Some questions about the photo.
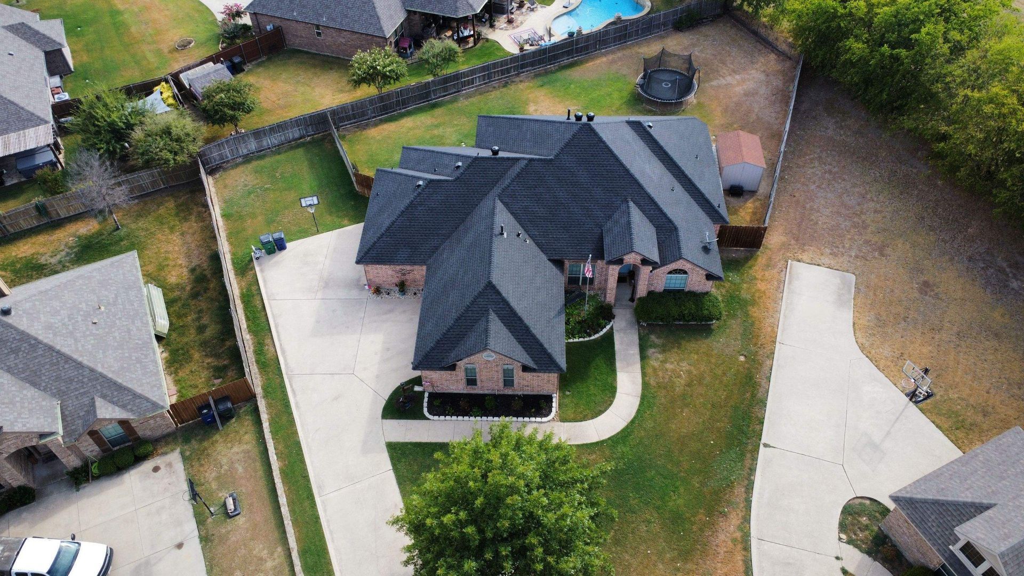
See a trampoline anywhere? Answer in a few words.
Yes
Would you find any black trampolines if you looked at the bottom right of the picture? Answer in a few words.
No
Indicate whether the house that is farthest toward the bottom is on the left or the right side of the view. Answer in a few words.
right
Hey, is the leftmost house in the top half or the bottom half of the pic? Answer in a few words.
top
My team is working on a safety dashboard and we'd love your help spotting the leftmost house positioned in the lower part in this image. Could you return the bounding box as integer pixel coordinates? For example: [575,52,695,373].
[0,246,175,486]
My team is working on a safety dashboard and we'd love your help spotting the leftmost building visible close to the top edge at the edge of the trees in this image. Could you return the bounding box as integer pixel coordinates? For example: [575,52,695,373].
[0,3,83,199]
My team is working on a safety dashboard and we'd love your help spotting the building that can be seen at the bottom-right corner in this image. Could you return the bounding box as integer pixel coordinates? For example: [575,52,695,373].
[877,430,1024,576]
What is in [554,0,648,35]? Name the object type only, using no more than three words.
swimming pool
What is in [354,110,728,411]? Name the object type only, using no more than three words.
house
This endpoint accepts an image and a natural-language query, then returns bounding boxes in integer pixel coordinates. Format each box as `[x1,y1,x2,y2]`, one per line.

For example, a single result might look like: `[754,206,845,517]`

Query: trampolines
[635,44,702,111]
